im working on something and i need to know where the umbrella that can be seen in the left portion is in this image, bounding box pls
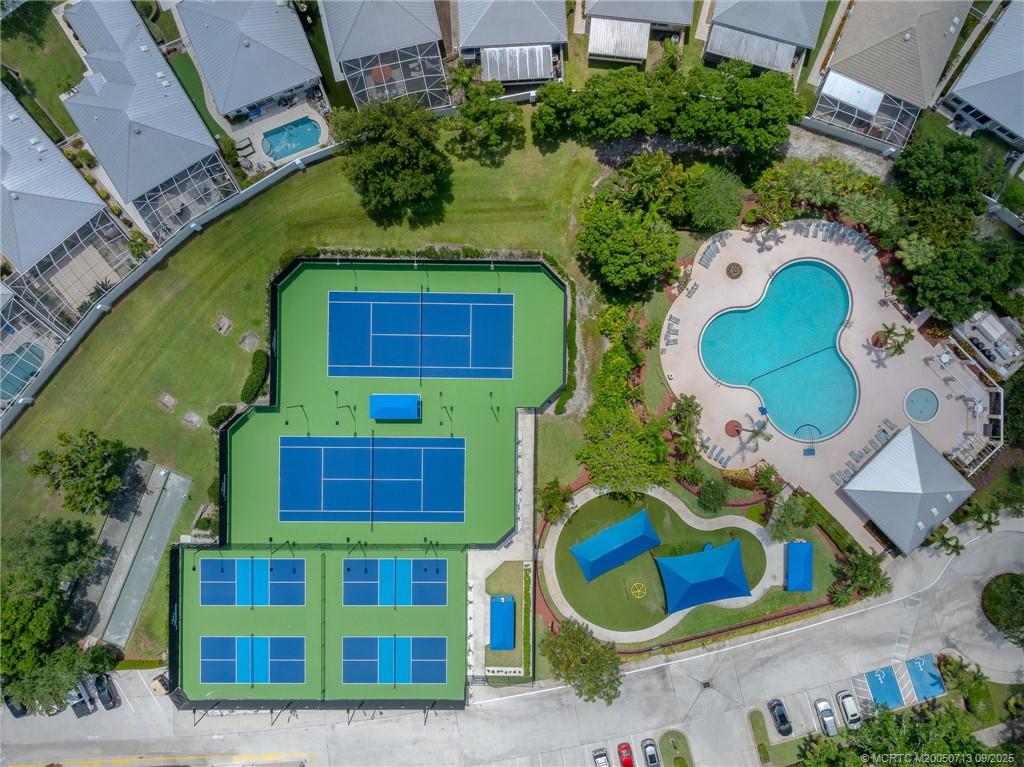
[371,64,392,85]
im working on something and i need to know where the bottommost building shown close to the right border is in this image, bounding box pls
[837,424,976,555]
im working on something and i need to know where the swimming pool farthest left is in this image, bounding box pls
[0,341,45,398]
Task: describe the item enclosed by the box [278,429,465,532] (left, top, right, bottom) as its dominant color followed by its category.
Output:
blue tennis court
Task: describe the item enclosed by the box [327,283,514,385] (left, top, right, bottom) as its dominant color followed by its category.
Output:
blue tennis court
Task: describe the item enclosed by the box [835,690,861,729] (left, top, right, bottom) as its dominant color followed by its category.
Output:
white car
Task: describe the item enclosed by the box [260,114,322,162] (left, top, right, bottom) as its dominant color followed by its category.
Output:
blue swimming pool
